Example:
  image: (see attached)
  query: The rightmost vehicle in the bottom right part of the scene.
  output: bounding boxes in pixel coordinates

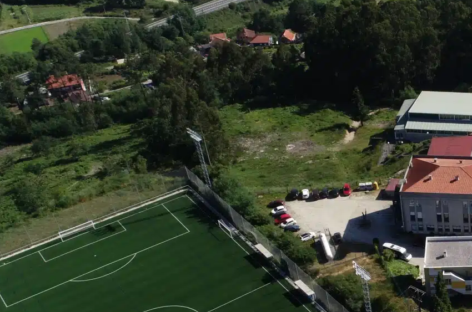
[383,240,412,259]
